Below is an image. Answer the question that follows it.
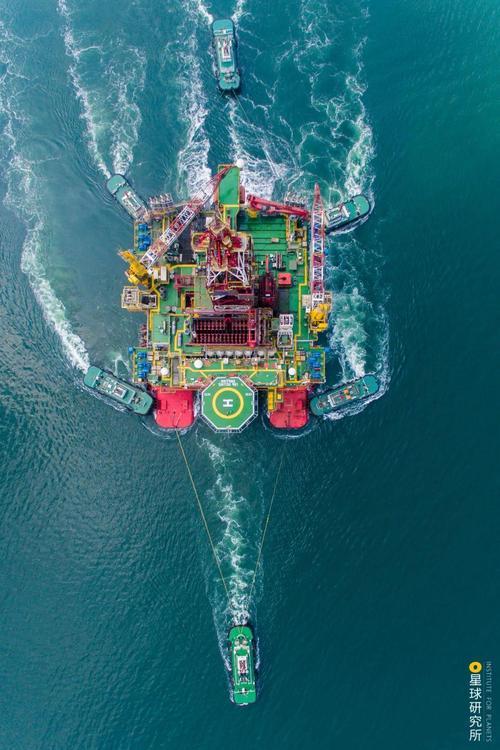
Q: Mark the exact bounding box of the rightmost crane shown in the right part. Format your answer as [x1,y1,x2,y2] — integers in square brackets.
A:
[305,182,333,337]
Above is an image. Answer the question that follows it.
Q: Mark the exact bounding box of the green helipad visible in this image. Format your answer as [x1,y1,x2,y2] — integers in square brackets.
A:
[199,374,259,434]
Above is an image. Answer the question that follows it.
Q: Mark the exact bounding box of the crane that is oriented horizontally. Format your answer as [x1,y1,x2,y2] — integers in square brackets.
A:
[246,196,312,221]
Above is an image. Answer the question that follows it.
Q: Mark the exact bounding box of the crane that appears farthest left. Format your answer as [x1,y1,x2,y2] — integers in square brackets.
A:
[123,165,230,305]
